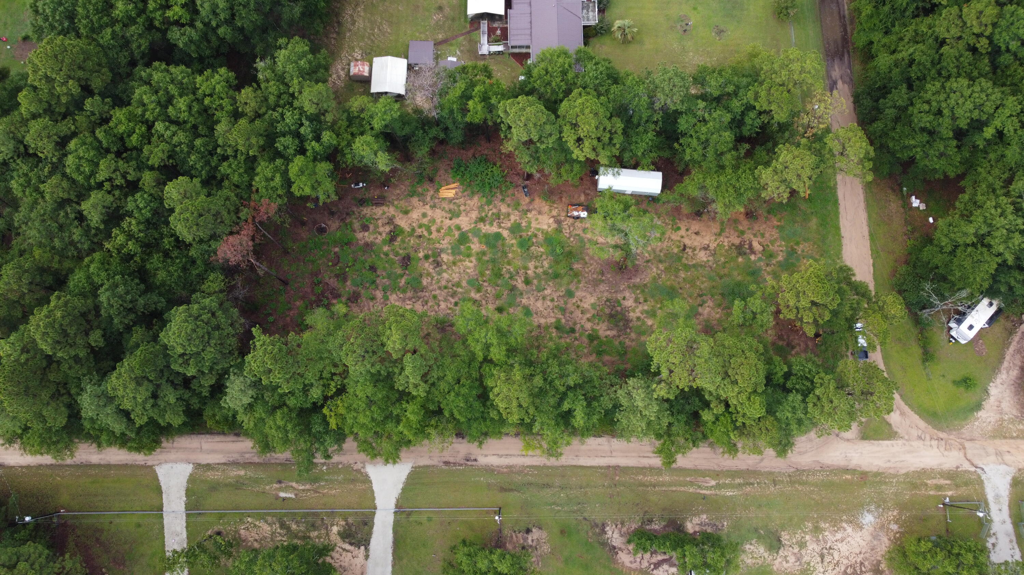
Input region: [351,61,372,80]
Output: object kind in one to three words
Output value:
shed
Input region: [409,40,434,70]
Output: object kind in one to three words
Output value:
shed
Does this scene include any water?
No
